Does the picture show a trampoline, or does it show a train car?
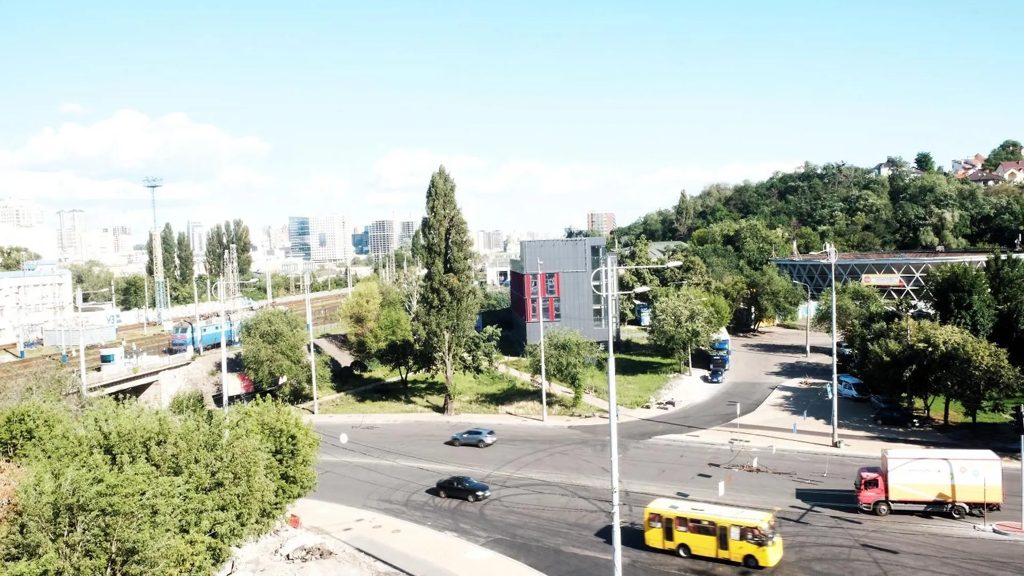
train car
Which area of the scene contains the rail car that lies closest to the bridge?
left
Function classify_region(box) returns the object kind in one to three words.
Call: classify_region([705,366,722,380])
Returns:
car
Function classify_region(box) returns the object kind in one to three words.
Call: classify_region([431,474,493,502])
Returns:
car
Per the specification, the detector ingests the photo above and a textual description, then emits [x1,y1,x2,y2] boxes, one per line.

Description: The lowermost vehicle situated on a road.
[647,500,781,567]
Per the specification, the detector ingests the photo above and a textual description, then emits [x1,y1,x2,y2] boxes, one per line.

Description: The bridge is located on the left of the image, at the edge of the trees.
[0,356,194,406]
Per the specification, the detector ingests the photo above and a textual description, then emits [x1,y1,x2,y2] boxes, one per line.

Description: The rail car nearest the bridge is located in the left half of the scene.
[169,313,243,349]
